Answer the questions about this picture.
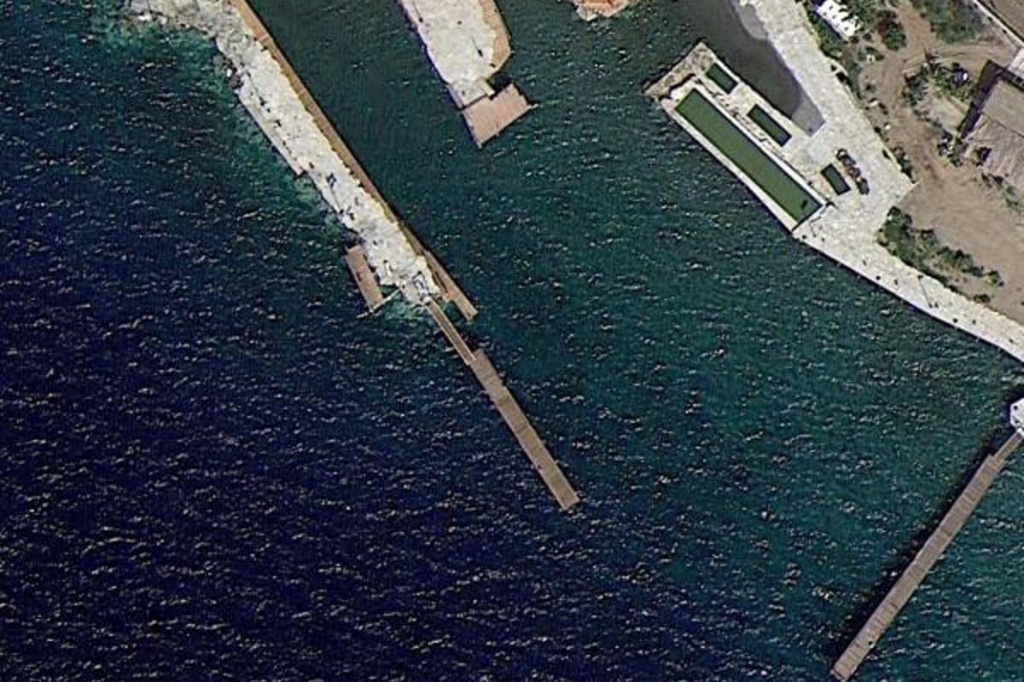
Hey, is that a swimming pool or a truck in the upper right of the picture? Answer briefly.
swimming pool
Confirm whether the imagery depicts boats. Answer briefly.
No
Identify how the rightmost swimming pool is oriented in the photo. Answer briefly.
on a diagonal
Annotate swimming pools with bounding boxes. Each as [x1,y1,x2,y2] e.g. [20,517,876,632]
[708,64,738,92]
[669,80,828,228]
[748,104,792,145]
[822,164,850,195]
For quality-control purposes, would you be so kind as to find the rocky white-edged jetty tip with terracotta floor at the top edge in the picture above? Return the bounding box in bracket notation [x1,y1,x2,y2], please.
[573,0,634,20]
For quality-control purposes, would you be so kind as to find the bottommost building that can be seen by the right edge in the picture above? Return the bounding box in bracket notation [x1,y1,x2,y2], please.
[966,79,1024,183]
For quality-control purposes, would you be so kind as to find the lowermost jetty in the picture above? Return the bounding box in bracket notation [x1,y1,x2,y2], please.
[831,456,1004,682]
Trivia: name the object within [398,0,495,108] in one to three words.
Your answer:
pier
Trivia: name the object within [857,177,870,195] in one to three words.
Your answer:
vehicle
